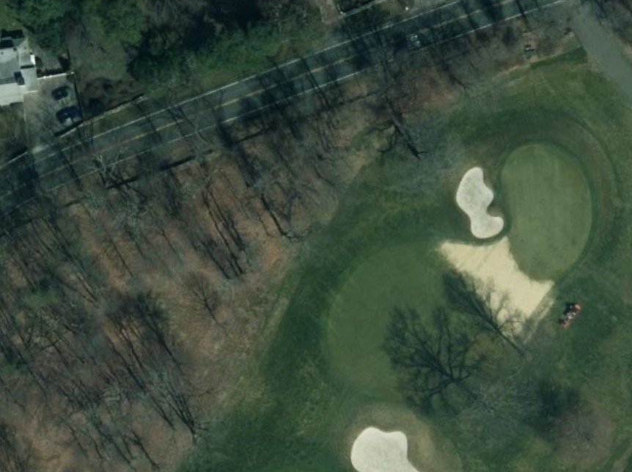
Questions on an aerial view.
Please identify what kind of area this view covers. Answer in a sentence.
It's a golf course.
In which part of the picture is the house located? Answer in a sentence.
The house is located in the top left region of the scene.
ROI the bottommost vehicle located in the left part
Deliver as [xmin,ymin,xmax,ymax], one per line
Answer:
[56,109,80,121]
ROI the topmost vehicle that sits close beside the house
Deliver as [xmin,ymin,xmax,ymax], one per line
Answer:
[49,86,71,99]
